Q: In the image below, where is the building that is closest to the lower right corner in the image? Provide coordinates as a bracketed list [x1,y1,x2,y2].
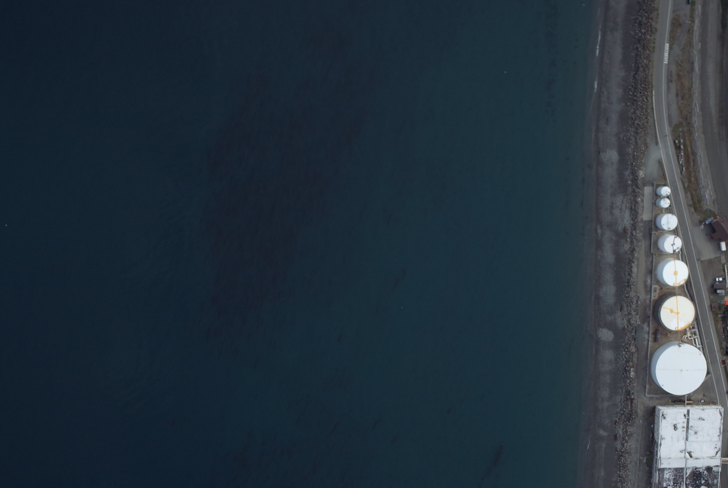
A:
[653,395,724,488]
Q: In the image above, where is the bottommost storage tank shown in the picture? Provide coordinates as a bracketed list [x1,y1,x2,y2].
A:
[650,341,707,395]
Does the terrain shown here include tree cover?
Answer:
No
